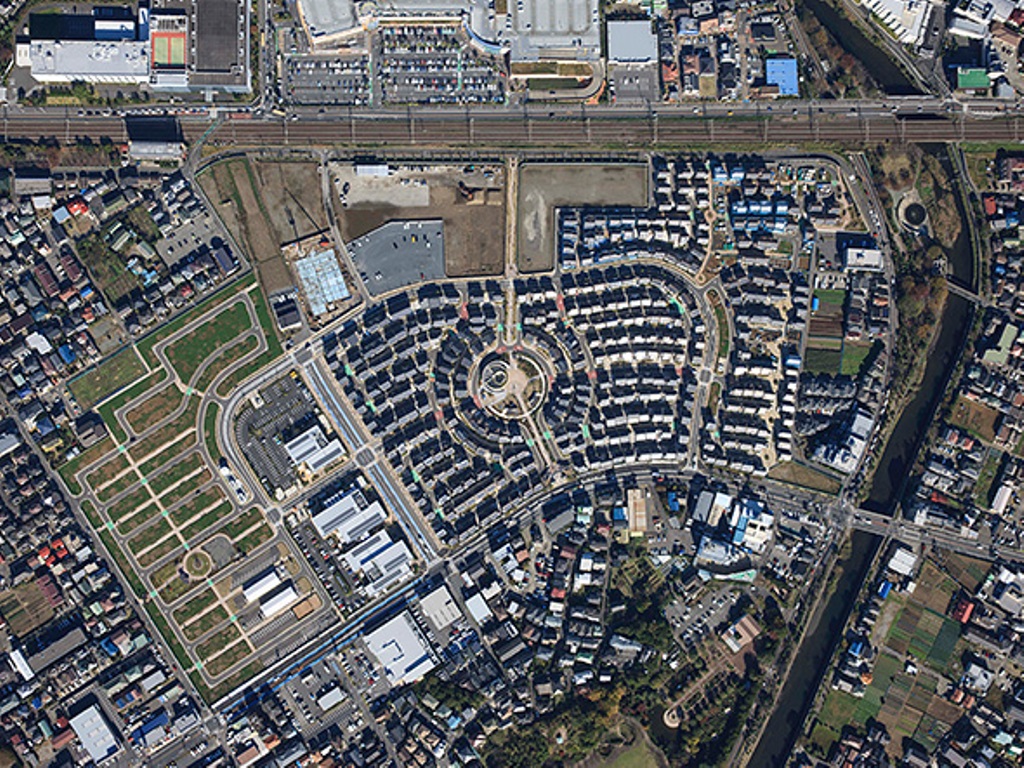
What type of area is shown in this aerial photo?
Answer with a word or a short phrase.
residential area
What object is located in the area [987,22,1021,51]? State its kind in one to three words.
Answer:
shed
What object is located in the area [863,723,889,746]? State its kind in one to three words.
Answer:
house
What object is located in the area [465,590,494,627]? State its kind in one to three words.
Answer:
building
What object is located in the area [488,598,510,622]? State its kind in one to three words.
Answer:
house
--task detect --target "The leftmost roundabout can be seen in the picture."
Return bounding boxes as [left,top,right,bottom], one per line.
[183,547,213,577]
